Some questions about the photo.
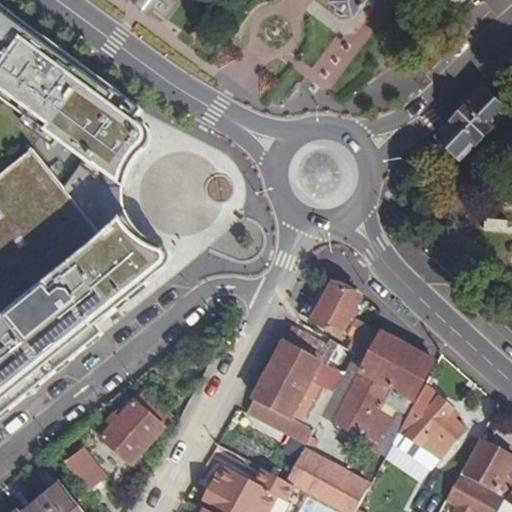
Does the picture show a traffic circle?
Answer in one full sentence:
Yes, looking at the shot, I can spot a traffic circle.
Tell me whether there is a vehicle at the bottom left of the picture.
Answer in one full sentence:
Yes, I can see a vehicle at the bottom left of the picture.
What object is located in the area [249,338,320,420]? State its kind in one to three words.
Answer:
house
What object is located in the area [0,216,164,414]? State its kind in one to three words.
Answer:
building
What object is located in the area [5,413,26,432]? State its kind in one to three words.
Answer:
vehicle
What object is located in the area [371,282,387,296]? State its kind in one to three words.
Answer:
car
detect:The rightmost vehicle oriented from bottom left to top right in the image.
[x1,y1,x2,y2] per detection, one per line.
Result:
[454,42,470,60]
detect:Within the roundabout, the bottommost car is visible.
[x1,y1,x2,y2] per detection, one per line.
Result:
[310,214,327,228]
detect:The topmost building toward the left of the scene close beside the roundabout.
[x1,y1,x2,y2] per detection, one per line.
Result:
[0,7,150,184]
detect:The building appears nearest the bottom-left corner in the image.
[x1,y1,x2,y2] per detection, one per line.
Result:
[16,480,82,512]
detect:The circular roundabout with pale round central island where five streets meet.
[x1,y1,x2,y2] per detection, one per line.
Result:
[227,99,406,276]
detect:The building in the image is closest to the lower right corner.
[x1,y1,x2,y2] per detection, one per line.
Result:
[462,439,512,497]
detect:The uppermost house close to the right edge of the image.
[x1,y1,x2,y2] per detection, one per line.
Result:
[447,92,504,159]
